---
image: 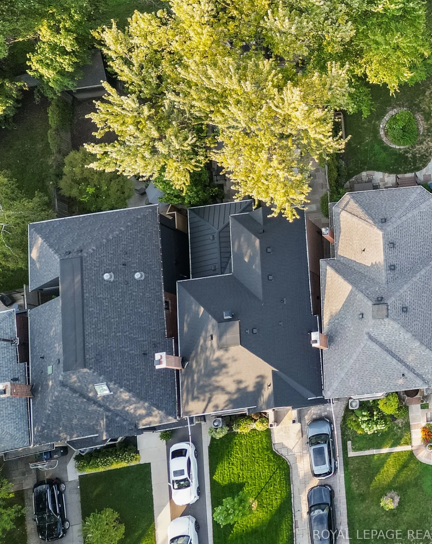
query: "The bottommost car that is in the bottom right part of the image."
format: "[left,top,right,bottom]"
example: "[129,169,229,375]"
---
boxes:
[302,482,339,544]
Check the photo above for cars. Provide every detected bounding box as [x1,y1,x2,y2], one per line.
[164,514,198,544]
[166,440,201,507]
[303,417,338,481]
[302,482,339,544]
[27,474,69,544]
